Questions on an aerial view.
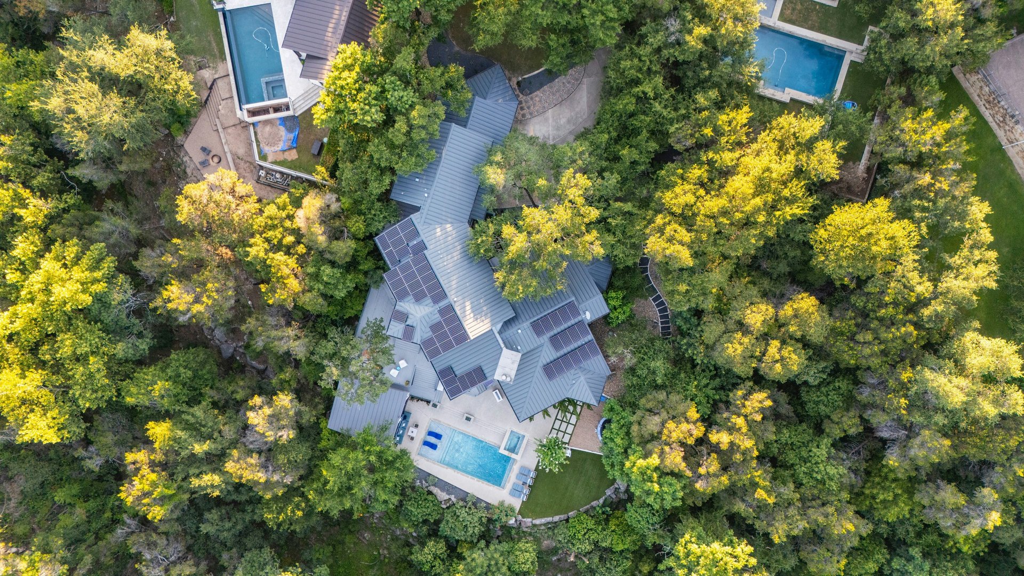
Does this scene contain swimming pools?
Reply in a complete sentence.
Yes, a swimming pool can be made out from above.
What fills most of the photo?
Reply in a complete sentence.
The bulk of the photo consists of trees.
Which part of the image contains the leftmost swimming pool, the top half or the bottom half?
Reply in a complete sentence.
It is in the top half that the leftmost swimming pool appears.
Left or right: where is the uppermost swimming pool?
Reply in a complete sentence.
The uppermost swimming pool sits on the right side.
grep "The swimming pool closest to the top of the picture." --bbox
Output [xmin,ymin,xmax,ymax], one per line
[762,0,784,20]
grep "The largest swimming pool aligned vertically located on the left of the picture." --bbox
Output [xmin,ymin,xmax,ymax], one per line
[218,4,296,123]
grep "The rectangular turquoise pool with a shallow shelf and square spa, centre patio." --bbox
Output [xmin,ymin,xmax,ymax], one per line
[415,416,519,494]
